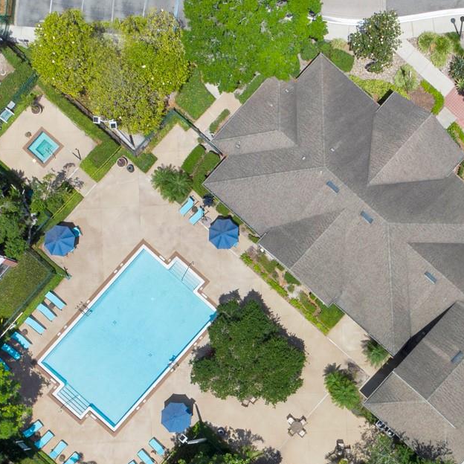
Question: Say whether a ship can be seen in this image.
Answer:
No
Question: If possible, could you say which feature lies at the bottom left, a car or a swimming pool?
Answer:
swimming pool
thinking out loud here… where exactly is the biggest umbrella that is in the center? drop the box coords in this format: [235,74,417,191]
[209,218,240,249]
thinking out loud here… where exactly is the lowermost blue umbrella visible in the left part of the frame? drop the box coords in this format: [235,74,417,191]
[161,401,193,433]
